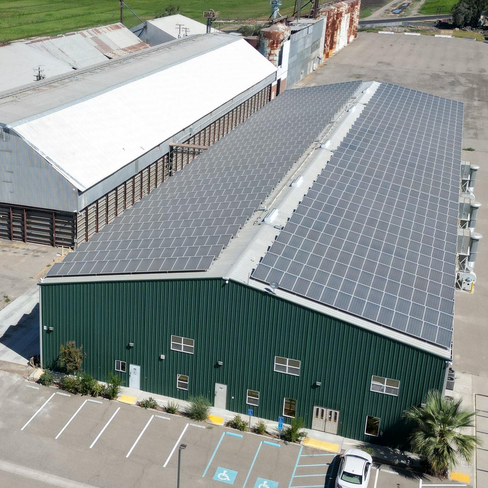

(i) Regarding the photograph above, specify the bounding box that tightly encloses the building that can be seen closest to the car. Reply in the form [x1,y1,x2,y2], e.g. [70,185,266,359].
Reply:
[31,79,464,452]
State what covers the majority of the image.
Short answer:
buildings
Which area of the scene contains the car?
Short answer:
bottom right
